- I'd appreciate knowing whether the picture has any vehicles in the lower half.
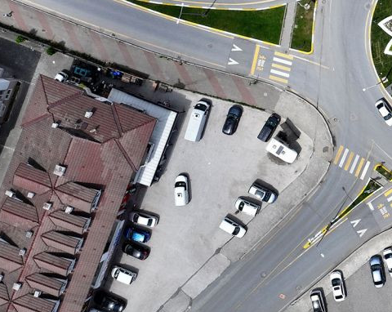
Yes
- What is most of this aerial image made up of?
paved ground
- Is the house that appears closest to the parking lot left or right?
left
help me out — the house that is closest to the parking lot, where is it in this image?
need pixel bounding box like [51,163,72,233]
[0,73,157,312]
